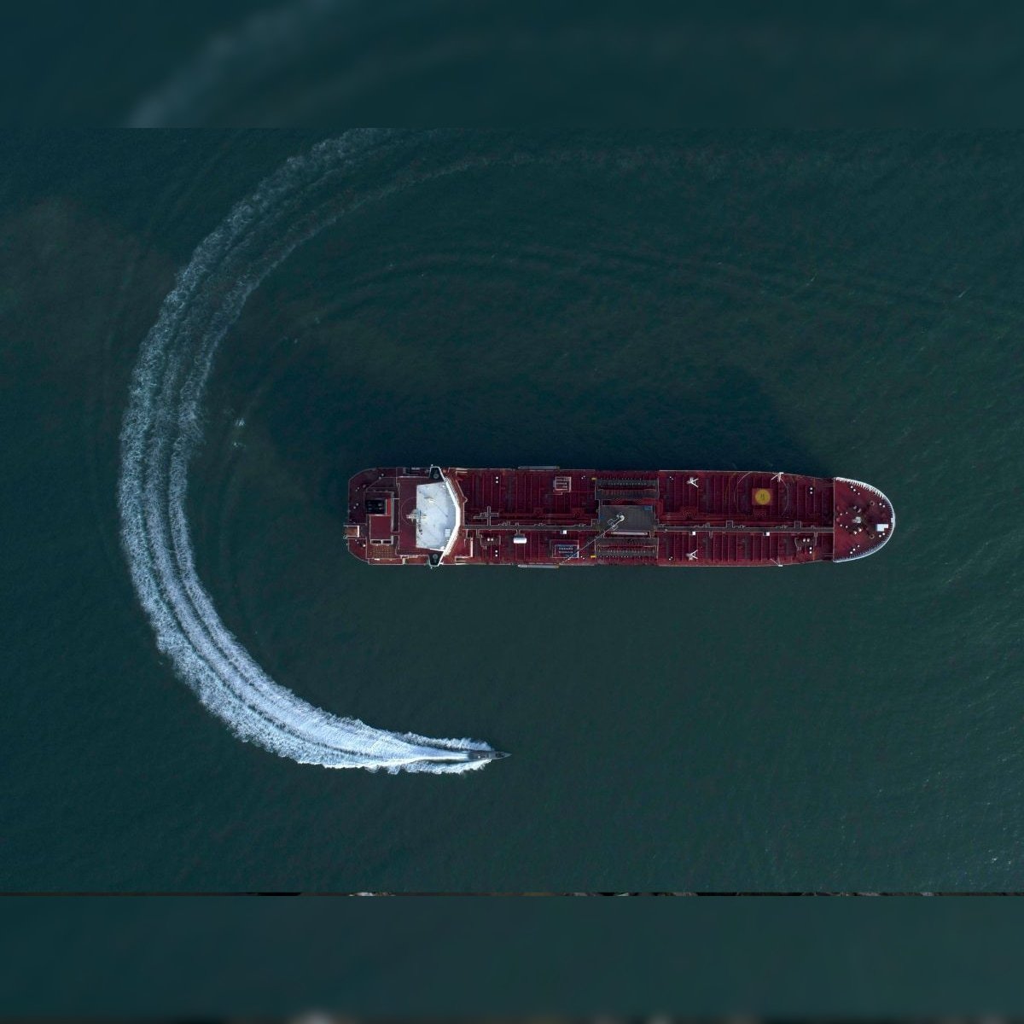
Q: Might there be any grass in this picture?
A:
No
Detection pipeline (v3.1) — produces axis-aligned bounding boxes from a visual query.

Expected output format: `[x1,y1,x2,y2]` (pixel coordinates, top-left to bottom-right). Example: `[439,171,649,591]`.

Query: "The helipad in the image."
[736,474,788,519]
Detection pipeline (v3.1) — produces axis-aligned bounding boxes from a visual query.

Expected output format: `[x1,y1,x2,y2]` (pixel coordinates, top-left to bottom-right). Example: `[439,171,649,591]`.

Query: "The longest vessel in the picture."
[343,464,896,569]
